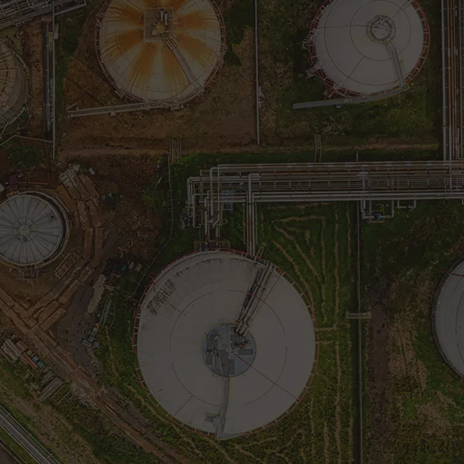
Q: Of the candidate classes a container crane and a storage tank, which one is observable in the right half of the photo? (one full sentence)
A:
The feature located in the right half of the photo is a storage tank.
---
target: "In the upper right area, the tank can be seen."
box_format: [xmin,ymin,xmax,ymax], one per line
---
[302,0,430,103]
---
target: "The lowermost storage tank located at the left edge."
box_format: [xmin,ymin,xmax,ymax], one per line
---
[0,191,68,275]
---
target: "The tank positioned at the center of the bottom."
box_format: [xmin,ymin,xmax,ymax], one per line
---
[136,243,317,441]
